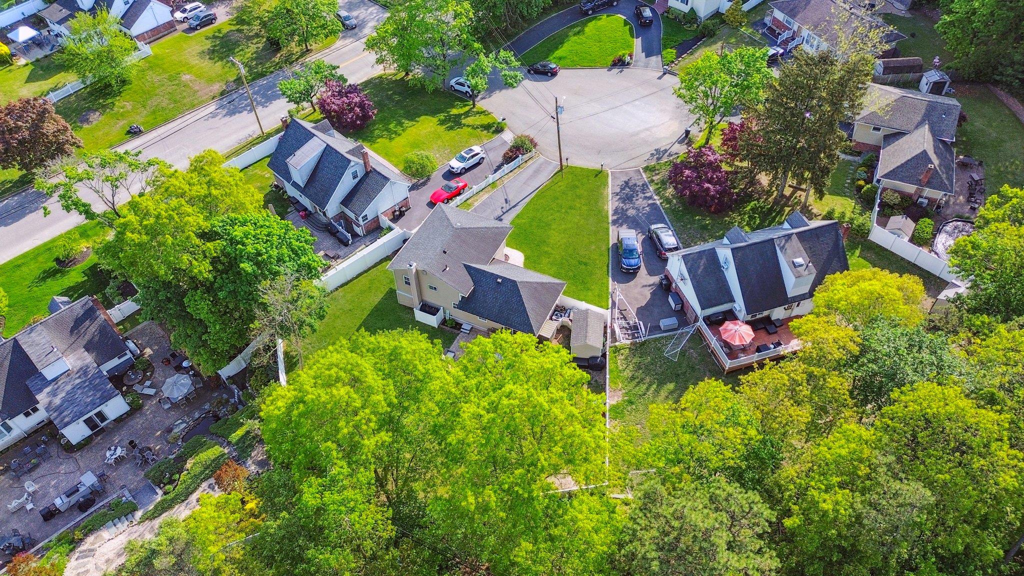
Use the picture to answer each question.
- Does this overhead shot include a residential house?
Yes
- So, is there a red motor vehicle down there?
Yes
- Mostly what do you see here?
trees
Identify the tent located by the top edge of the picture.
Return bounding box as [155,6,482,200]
[0,23,40,54]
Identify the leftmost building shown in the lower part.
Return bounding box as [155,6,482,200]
[0,285,142,450]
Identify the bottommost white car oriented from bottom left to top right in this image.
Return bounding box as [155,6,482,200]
[447,141,489,172]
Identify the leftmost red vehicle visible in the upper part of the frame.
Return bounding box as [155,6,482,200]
[429,175,468,204]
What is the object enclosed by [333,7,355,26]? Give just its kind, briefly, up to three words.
car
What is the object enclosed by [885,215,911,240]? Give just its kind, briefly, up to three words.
shed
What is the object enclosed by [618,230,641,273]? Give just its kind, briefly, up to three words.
truck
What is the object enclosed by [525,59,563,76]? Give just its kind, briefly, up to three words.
car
